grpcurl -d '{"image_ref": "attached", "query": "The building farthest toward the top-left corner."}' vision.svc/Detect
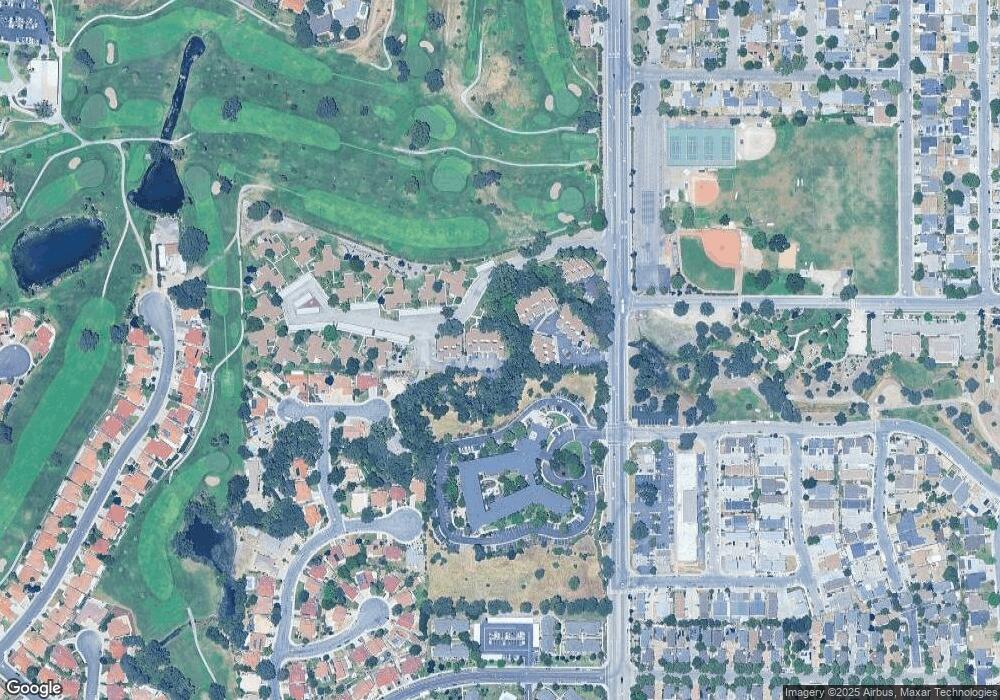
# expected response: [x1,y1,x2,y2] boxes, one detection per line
[27,59,58,105]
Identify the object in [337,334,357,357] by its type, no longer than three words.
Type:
house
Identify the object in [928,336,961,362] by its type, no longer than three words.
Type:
building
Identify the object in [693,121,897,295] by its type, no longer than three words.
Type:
sports field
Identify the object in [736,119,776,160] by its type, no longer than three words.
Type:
baseball field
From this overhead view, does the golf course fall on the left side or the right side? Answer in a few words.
left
